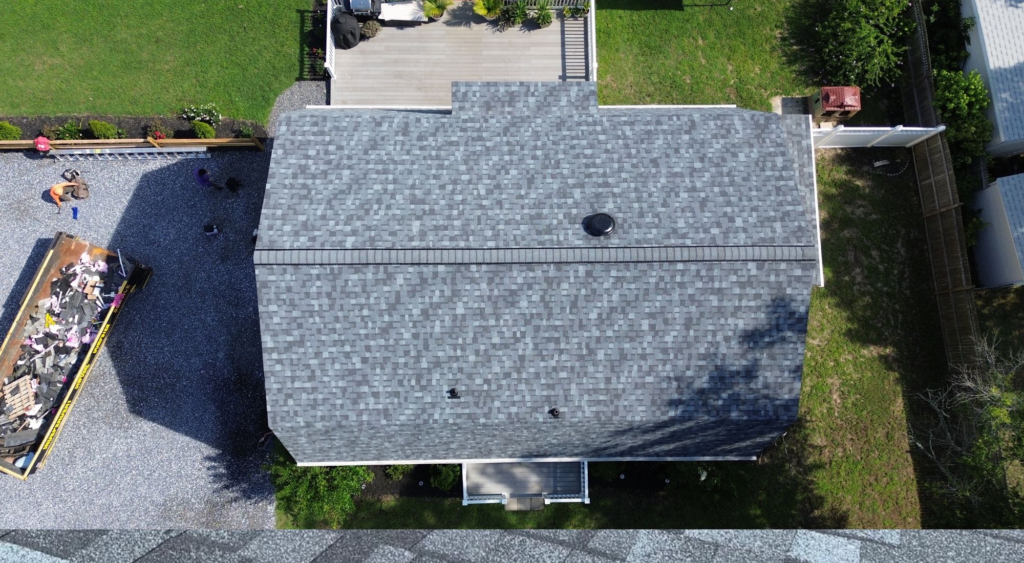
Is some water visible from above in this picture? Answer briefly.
No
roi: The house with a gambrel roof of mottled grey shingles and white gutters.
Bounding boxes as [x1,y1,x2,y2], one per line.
[251,79,825,470]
